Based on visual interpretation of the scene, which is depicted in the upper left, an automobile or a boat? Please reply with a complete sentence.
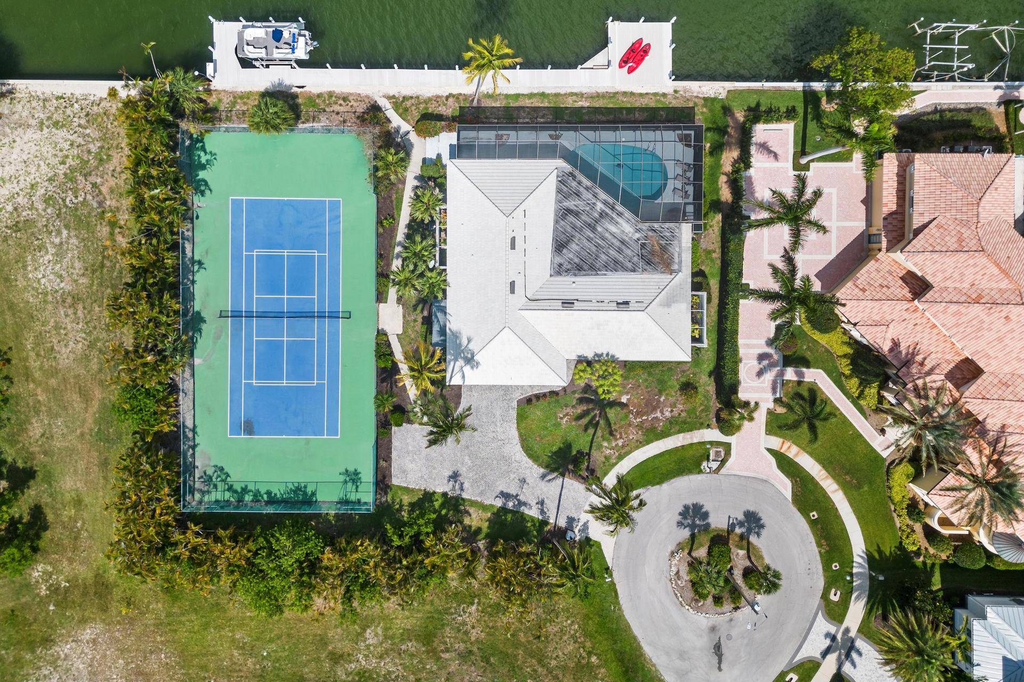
What appears in the upper left is a boat.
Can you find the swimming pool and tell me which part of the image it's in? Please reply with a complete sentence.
The swimming pool is located in the top region of the scene.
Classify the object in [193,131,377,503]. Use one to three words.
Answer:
tennis court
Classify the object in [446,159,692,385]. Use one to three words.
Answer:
house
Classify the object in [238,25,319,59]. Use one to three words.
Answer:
boat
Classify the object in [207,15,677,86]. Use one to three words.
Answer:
pier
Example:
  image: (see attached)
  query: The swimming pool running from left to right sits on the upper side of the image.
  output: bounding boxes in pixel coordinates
[460,135,694,222]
